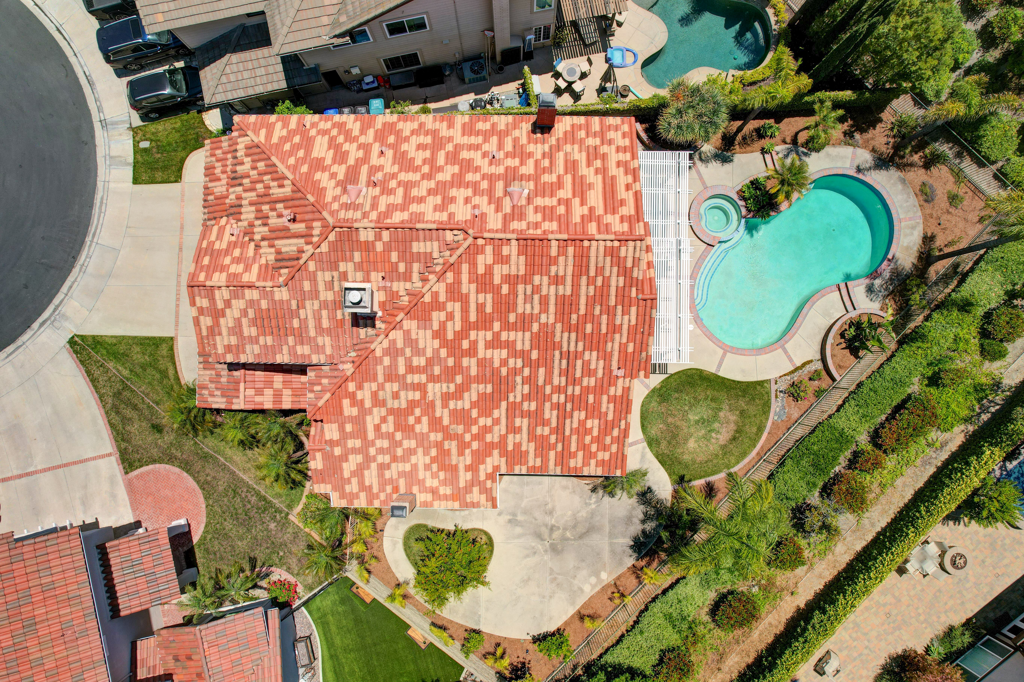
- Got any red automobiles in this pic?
No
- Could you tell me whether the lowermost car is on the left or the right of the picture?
left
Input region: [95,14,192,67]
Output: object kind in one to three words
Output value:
car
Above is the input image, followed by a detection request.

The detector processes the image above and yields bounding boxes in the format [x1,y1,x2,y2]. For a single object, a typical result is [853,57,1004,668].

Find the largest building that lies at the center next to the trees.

[186,93,658,519]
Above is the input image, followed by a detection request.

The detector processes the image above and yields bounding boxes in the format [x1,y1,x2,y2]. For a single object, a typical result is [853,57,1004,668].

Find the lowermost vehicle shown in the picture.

[123,63,204,119]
